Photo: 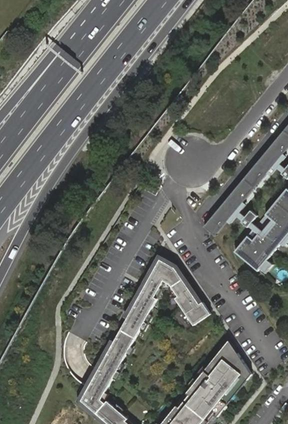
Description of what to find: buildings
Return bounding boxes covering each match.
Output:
[162,342,253,424]
[75,256,212,424]
[236,188,288,274]
[202,125,288,236]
